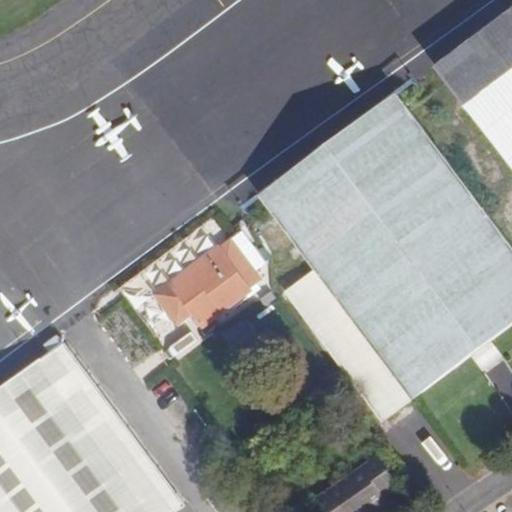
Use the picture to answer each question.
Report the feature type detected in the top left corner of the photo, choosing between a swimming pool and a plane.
plane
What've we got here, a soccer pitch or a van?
van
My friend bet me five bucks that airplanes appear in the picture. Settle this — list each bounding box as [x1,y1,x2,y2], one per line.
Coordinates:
[86,109,140,163]
[0,292,36,336]
[326,57,364,95]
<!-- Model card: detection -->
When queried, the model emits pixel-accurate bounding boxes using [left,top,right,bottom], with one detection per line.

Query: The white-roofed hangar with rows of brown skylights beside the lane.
[0,336,186,512]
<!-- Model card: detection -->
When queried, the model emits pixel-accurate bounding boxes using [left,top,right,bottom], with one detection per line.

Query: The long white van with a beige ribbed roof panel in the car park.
[422,436,452,469]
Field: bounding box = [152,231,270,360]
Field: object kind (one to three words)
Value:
house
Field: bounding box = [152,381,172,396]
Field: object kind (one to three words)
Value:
car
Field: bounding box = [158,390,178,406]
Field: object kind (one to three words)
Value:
car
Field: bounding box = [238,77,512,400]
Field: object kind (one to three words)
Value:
hangar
